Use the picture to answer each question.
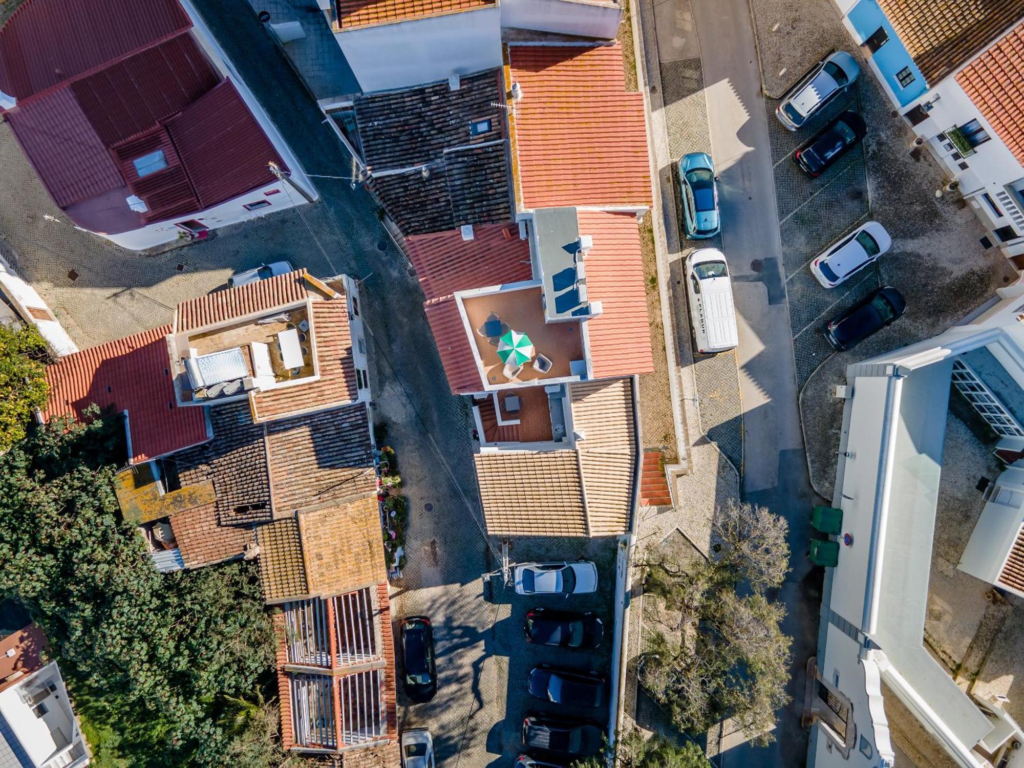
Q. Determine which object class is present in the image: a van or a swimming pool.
van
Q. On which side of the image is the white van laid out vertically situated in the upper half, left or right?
right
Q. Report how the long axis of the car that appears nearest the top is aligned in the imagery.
diagonally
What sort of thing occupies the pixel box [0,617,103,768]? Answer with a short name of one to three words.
house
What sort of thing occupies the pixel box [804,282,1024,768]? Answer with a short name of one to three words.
church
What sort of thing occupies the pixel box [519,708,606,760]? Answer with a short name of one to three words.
truck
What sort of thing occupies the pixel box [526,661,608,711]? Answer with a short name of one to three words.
car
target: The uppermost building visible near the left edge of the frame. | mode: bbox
[0,0,326,253]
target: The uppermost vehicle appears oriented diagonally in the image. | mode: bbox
[766,49,861,141]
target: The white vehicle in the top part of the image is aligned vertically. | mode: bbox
[679,247,738,358]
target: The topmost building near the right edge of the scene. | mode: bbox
[836,0,1024,109]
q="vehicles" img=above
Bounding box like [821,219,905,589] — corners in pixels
[785,111,866,186]
[672,154,722,242]
[519,708,606,760]
[512,556,599,601]
[223,257,301,291]
[802,218,890,295]
[766,49,861,141]
[397,613,442,701]
[815,284,906,357]
[679,247,738,358]
[526,661,608,711]
[521,604,604,653]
